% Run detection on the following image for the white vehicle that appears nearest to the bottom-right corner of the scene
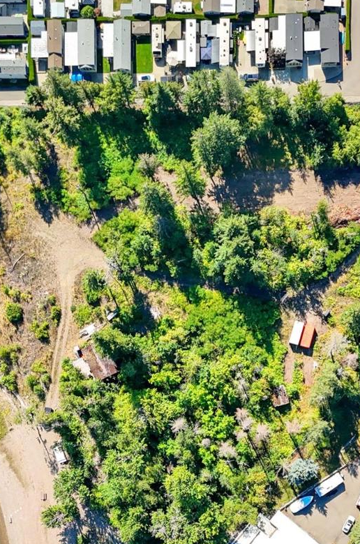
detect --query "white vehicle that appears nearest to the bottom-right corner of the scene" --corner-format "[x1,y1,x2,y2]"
[340,513,356,533]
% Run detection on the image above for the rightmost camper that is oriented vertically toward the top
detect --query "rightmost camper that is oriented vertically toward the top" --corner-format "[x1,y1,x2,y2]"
[252,19,268,73]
